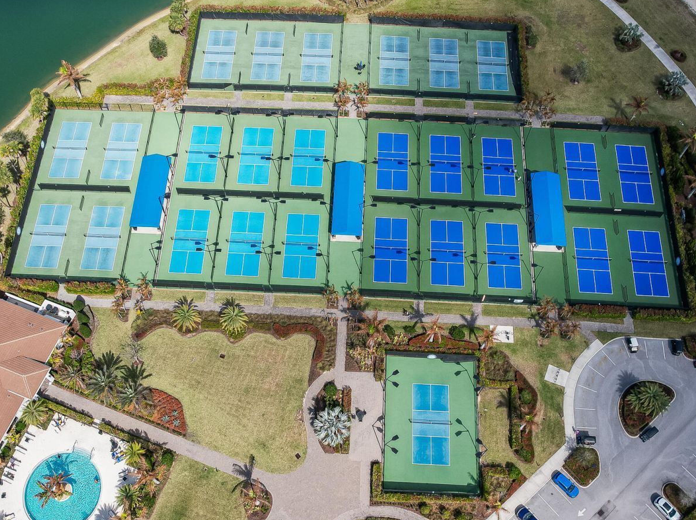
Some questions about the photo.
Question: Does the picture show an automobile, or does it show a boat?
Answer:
automobile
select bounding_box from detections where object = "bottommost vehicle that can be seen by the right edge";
[652,494,682,520]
